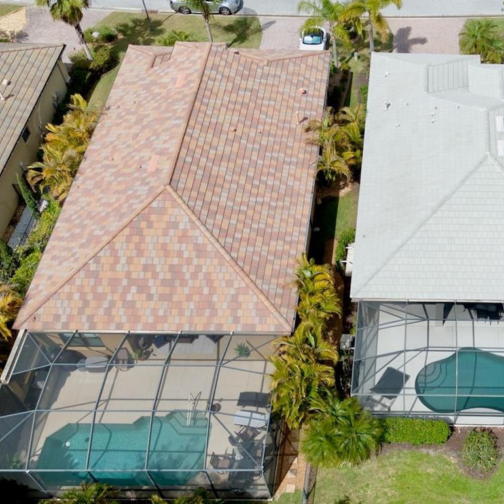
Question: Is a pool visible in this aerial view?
Yes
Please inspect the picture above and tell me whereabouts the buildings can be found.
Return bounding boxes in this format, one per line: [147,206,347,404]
[348,51,504,329]
[11,30,330,354]
[0,42,71,239]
